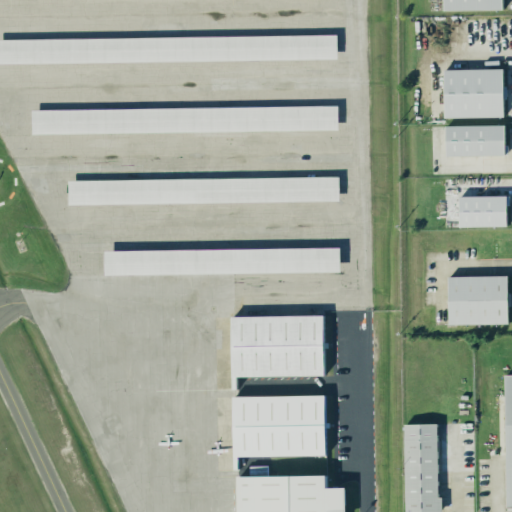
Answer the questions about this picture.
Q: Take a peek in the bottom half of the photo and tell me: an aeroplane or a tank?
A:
aeroplane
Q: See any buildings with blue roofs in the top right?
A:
No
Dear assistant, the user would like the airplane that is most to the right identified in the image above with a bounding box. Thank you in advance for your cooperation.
[208,441,230,457]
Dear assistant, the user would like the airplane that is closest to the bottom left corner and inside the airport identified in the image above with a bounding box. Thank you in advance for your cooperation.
[158,432,180,448]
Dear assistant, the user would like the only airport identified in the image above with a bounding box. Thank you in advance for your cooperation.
[0,0,373,512]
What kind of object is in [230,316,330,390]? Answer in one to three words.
hangar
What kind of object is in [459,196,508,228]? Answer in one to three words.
building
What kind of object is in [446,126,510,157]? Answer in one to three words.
building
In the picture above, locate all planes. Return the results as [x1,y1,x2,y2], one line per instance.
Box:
[158,432,180,448]
[208,441,230,457]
